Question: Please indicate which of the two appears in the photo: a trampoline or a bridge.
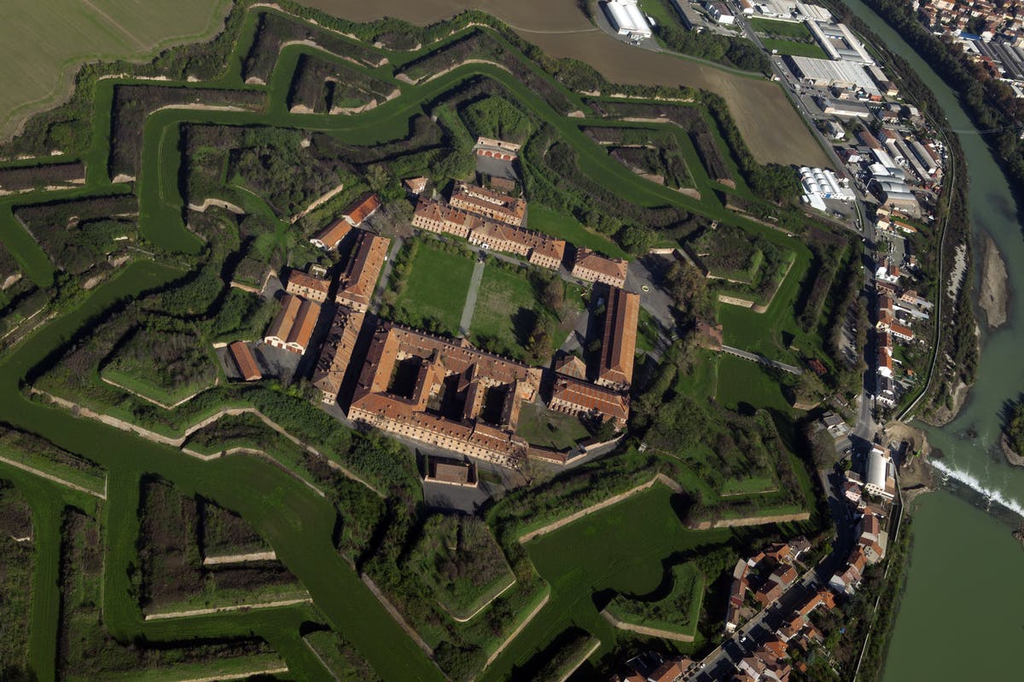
bridge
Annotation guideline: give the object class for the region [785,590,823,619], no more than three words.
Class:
house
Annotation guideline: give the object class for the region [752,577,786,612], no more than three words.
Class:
house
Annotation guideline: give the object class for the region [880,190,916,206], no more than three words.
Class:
building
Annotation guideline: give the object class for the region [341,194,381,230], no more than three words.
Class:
shed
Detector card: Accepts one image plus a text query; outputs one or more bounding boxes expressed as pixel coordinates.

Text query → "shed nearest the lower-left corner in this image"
[226,341,263,385]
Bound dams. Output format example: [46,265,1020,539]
[927,459,1024,520]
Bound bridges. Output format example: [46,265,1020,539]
[722,339,812,375]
